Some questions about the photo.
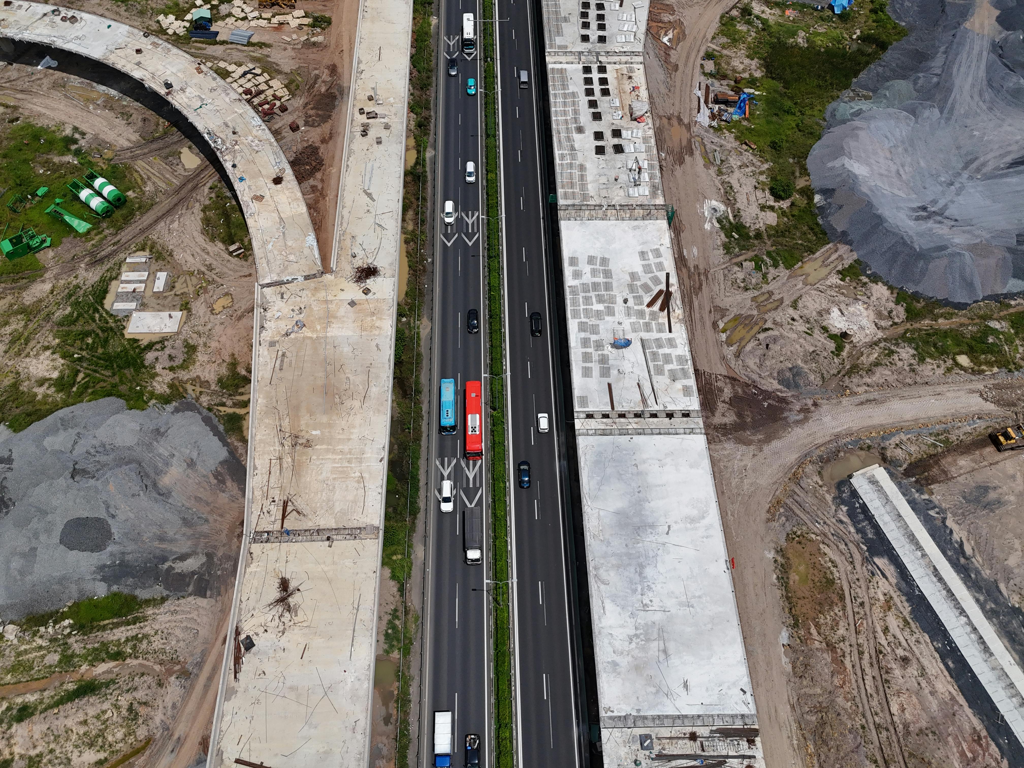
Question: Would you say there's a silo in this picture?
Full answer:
Yes, you can see a silo in this photo.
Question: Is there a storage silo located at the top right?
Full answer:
No, I can find no storage silo at the top right.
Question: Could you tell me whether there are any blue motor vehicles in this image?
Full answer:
Yes, I can see a blue motor vehicle in this picture.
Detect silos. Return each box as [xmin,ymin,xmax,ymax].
[66,179,113,217]
[79,168,125,204]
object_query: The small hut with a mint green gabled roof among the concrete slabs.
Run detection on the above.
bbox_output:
[191,1,212,23]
